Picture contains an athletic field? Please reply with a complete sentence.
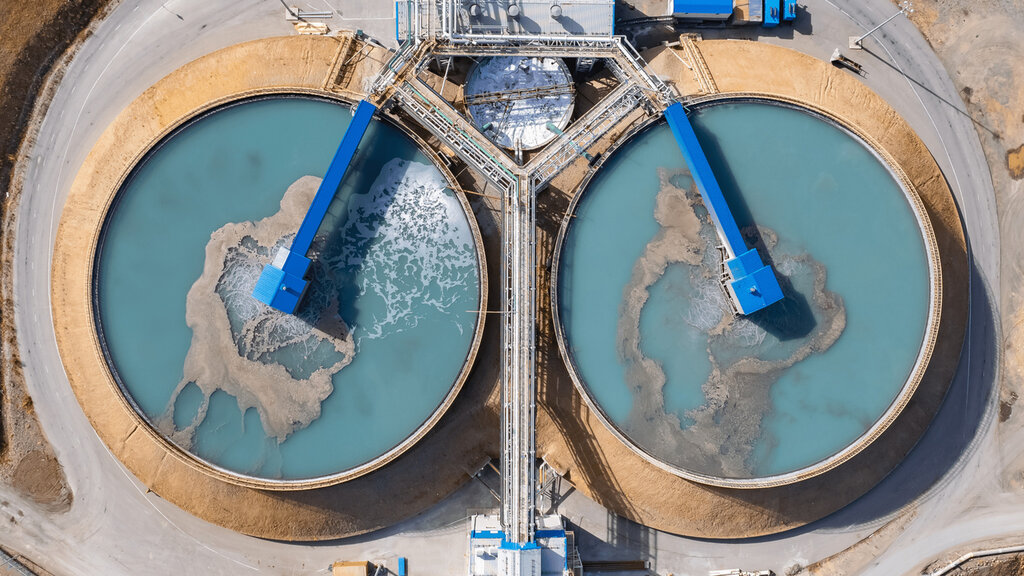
No, the scene contains no athletic field.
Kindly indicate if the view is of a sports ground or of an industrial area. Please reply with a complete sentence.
What you see here is an industrial area.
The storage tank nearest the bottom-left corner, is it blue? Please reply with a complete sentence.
Yes, blue is the color of the storage tank nearest the bottom-left corner.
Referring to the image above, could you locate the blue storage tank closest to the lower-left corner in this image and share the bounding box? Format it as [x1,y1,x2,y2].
[83,86,488,492]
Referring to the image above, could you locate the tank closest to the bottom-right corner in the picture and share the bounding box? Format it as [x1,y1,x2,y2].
[548,90,949,490]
